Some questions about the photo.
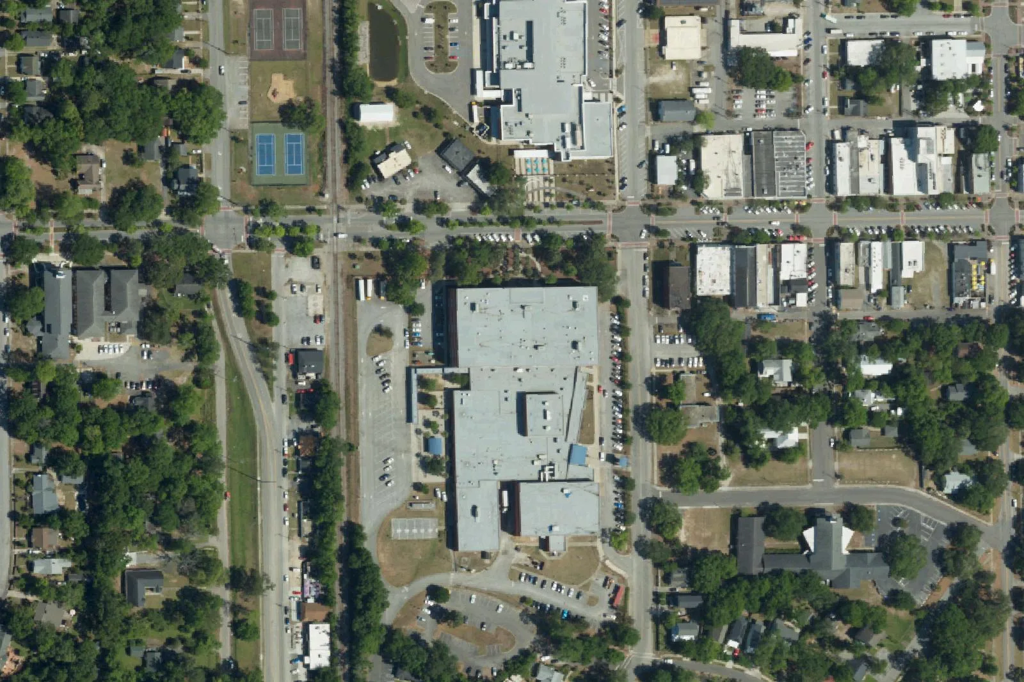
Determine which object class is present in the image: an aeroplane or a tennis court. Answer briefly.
tennis court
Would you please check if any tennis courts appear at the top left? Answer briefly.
Yes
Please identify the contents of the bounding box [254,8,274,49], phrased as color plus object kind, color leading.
gray tennis court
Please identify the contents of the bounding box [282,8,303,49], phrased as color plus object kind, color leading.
gray tennis court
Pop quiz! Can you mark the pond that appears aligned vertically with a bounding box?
[369,3,399,80]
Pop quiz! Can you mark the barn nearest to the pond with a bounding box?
[358,103,396,122]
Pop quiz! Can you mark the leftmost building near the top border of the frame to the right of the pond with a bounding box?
[474,0,613,161]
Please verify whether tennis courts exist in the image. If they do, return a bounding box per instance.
[282,8,303,49]
[285,133,304,174]
[256,133,276,174]
[254,8,274,49]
